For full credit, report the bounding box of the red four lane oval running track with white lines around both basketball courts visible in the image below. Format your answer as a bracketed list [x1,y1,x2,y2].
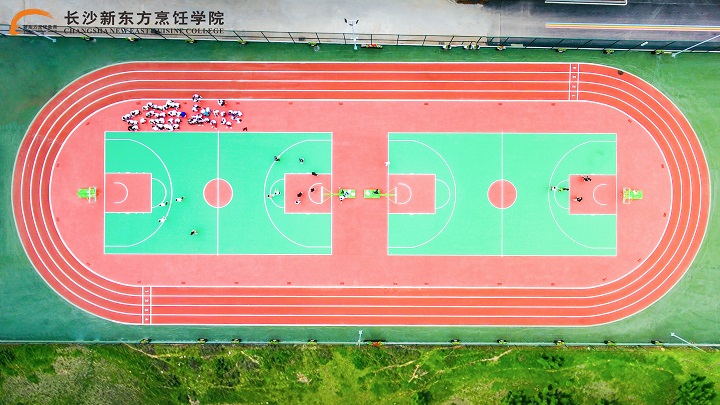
[12,62,710,326]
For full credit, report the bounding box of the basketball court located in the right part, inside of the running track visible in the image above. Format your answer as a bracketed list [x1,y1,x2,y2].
[388,131,617,256]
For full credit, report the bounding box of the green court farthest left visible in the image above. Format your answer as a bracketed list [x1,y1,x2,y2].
[104,130,333,255]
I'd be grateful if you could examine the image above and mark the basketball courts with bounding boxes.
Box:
[104,130,333,255]
[388,131,617,256]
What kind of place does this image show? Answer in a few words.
sports ground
